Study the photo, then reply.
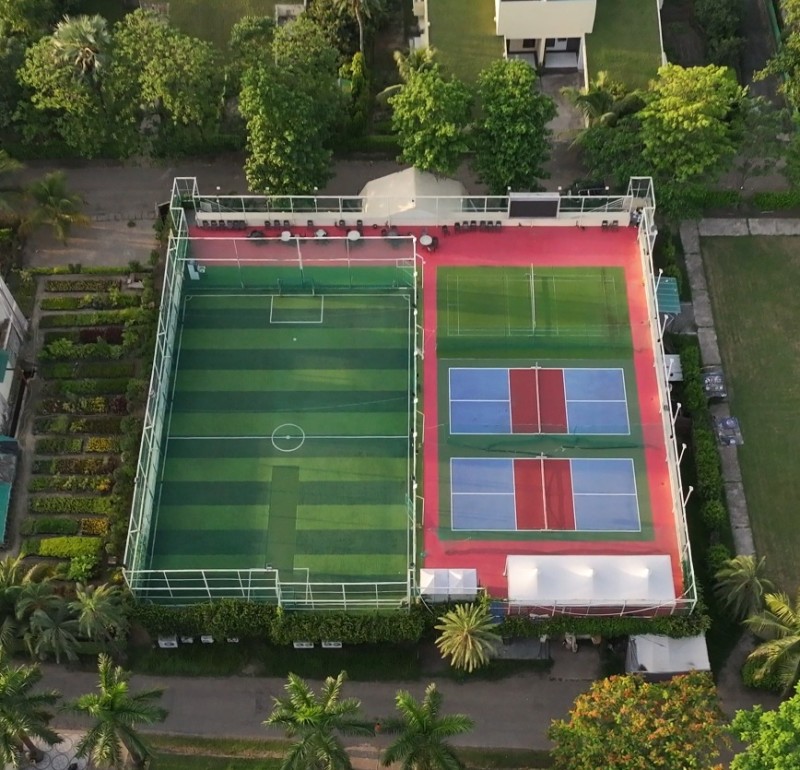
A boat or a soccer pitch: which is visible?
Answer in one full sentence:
The one in the frame is a soccer pitch.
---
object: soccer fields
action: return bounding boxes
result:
[134,266,412,615]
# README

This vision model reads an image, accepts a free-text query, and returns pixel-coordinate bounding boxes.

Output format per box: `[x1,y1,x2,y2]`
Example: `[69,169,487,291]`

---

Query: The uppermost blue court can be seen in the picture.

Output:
[449,369,630,433]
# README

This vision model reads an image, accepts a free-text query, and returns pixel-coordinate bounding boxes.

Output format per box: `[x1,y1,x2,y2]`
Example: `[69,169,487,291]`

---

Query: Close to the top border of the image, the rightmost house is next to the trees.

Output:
[495,0,595,70]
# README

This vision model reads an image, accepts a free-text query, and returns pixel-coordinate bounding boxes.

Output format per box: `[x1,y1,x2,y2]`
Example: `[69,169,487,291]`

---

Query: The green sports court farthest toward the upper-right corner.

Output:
[436,266,635,358]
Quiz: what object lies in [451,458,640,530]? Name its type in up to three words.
sports court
